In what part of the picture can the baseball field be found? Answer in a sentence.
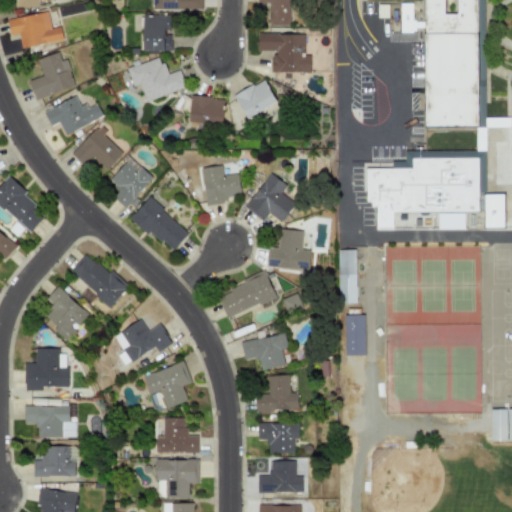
You can find the baseball field in the bottom right area of the picture.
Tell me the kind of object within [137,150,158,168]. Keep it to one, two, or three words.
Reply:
swimming pool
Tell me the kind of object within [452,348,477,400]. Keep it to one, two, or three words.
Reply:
tennis court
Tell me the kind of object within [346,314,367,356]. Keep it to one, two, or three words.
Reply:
house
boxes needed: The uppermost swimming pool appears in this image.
[112,26,124,50]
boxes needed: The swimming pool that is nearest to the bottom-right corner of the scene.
[296,324,311,344]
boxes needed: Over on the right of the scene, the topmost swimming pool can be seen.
[308,76,328,95]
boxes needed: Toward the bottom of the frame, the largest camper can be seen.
[232,324,257,339]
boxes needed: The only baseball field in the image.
[370,440,512,512]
